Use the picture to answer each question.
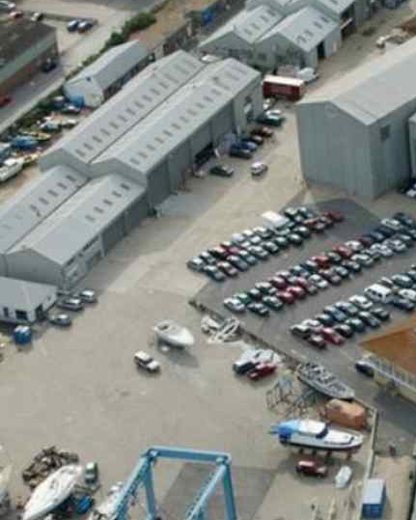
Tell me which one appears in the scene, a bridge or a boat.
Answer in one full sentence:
Visible in the photo is a boat.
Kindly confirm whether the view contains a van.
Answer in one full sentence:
Yes, the photo shows a van.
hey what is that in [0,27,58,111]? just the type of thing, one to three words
building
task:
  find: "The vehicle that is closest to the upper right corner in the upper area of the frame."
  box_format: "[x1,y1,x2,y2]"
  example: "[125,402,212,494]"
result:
[369,26,394,45]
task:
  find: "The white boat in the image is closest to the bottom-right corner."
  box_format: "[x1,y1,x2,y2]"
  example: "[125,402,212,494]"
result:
[333,466,352,492]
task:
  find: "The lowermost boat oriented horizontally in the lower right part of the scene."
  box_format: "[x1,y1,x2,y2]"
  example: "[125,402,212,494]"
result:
[267,423,364,466]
